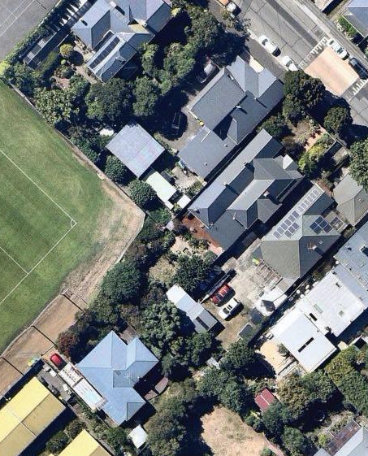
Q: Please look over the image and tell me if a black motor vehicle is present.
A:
Yes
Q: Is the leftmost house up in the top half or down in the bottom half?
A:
bottom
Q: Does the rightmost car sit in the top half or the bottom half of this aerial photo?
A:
top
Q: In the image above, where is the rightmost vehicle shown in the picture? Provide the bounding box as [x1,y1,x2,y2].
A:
[348,56,368,81]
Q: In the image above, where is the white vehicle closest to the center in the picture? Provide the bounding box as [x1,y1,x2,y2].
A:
[220,298,240,318]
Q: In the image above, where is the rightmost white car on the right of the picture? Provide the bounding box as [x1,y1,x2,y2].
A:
[327,37,349,61]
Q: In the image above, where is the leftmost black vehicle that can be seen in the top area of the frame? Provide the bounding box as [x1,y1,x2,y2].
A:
[167,108,183,133]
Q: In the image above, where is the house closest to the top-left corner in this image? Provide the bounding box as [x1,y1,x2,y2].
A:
[70,0,173,82]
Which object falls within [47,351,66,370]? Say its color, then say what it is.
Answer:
red car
